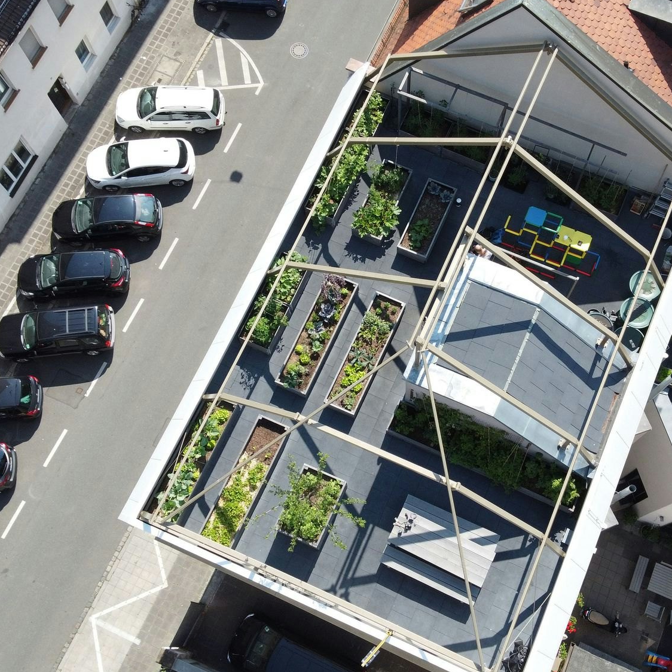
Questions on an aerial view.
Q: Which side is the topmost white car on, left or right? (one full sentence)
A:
You can find the topmost white car on the left side of the picture.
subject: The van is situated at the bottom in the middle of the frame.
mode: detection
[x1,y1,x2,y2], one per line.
[224,610,374,672]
